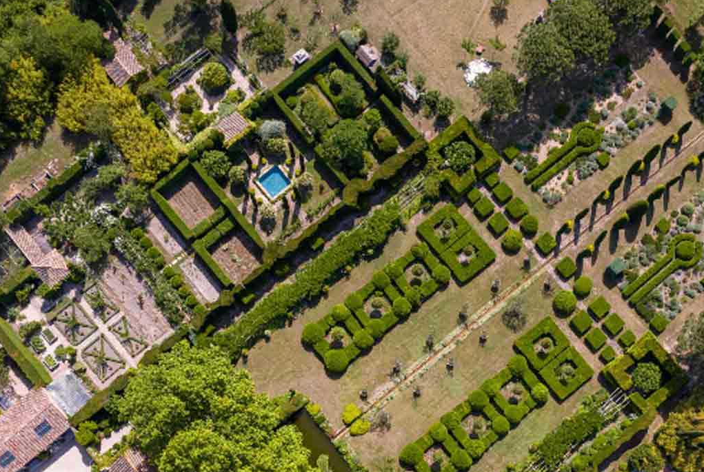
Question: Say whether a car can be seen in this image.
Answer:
No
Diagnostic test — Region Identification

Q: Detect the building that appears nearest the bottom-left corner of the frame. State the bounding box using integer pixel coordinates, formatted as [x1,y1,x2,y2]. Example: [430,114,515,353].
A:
[0,388,75,472]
